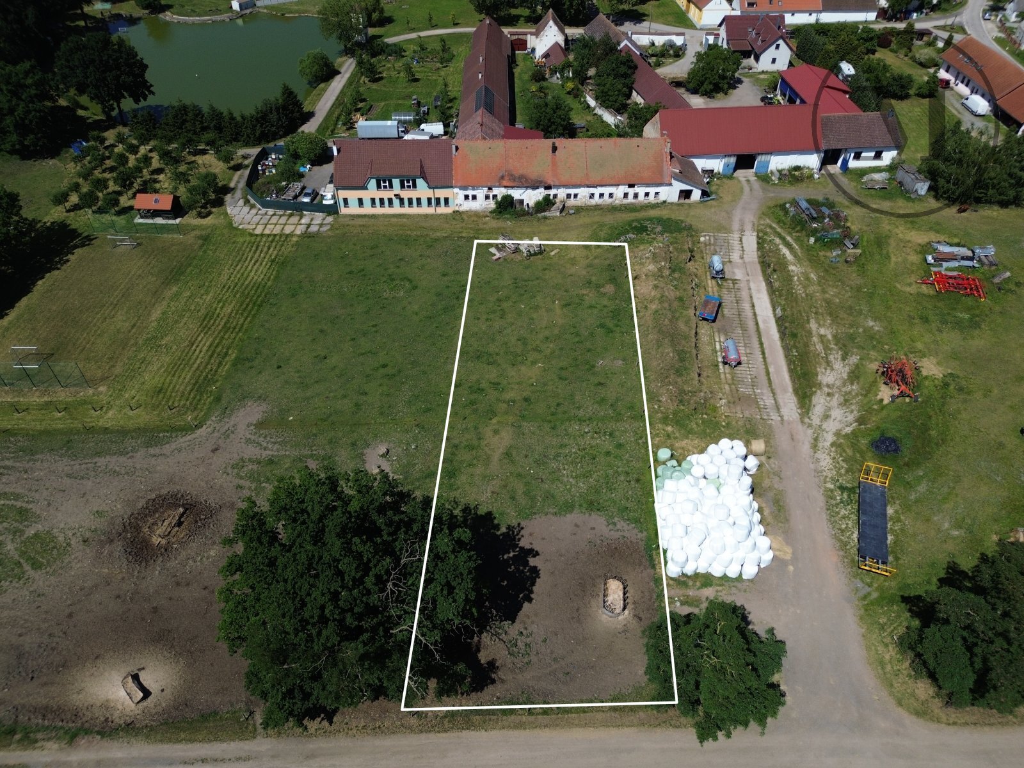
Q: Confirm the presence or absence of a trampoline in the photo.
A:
No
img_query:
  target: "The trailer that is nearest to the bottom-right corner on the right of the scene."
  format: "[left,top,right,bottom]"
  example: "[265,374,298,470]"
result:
[856,468,896,575]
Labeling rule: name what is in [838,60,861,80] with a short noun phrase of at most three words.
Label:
camper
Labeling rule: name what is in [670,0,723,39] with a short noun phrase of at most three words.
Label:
house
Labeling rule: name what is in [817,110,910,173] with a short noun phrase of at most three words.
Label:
shed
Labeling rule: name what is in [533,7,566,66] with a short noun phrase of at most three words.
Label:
house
